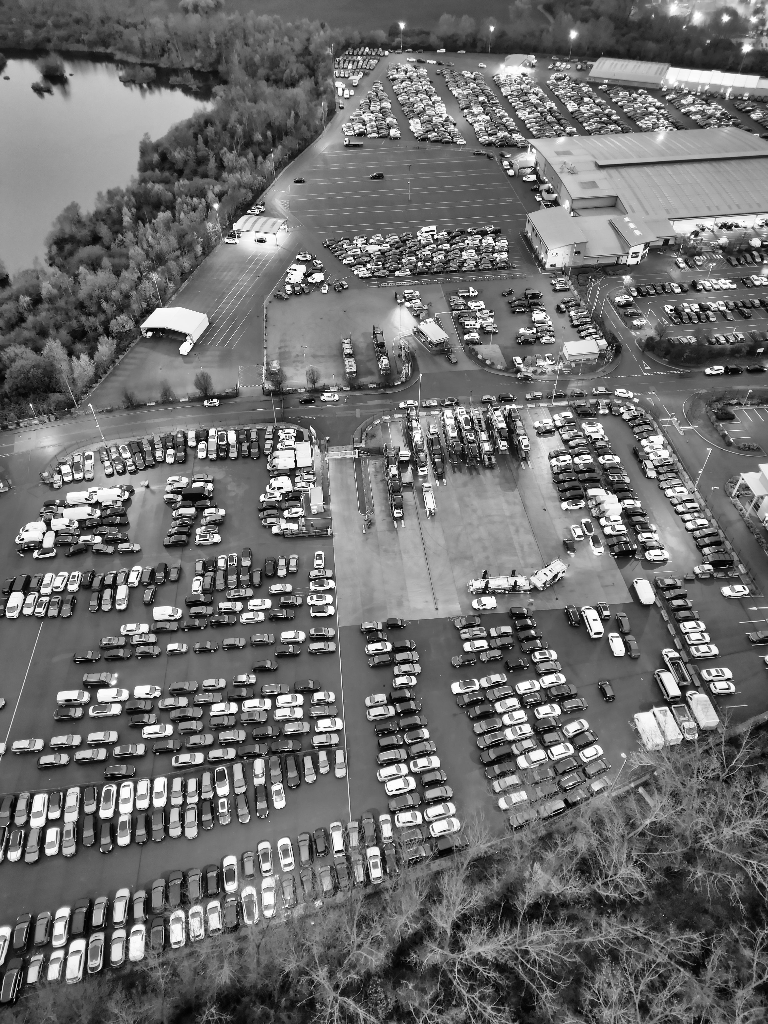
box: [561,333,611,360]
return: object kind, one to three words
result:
shed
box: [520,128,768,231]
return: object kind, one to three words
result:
building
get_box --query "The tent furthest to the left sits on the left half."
[141,304,209,343]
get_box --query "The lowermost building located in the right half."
[732,448,768,517]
